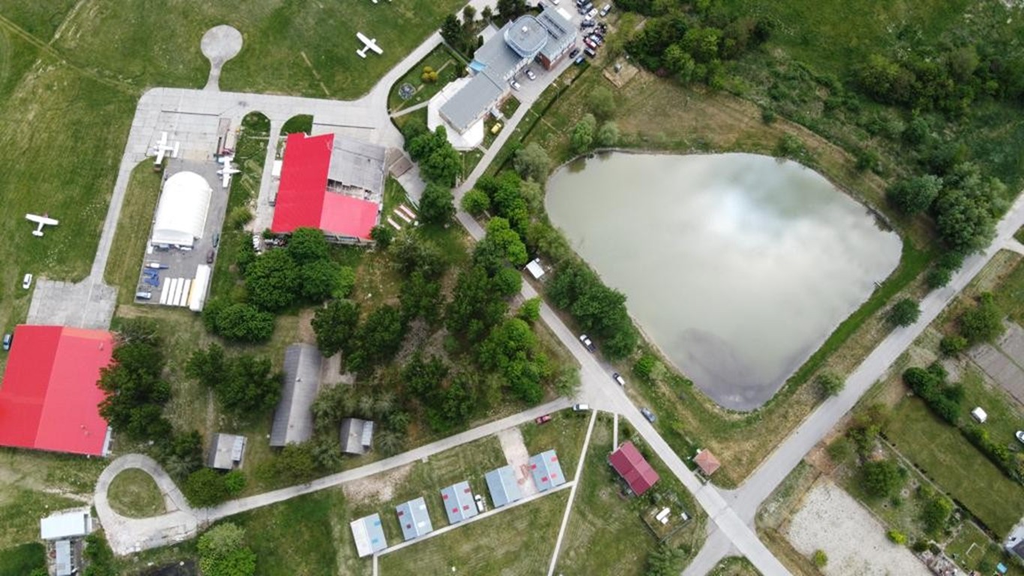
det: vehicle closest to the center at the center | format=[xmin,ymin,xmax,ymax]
[579,335,595,353]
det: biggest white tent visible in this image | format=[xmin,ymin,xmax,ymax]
[150,173,216,250]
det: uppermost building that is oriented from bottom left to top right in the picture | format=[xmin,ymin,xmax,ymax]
[439,7,578,137]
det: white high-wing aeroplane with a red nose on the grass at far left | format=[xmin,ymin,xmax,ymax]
[24,214,58,236]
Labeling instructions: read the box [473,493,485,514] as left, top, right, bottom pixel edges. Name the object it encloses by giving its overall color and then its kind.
white vehicle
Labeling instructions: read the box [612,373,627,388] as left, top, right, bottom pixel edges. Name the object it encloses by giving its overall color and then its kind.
white car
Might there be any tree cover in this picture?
Yes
